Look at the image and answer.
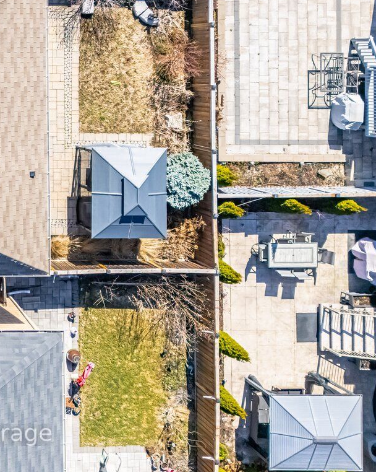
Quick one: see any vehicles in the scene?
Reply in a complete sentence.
No, there's no vehicle here.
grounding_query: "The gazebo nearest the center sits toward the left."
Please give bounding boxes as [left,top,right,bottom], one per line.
[74,142,169,238]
